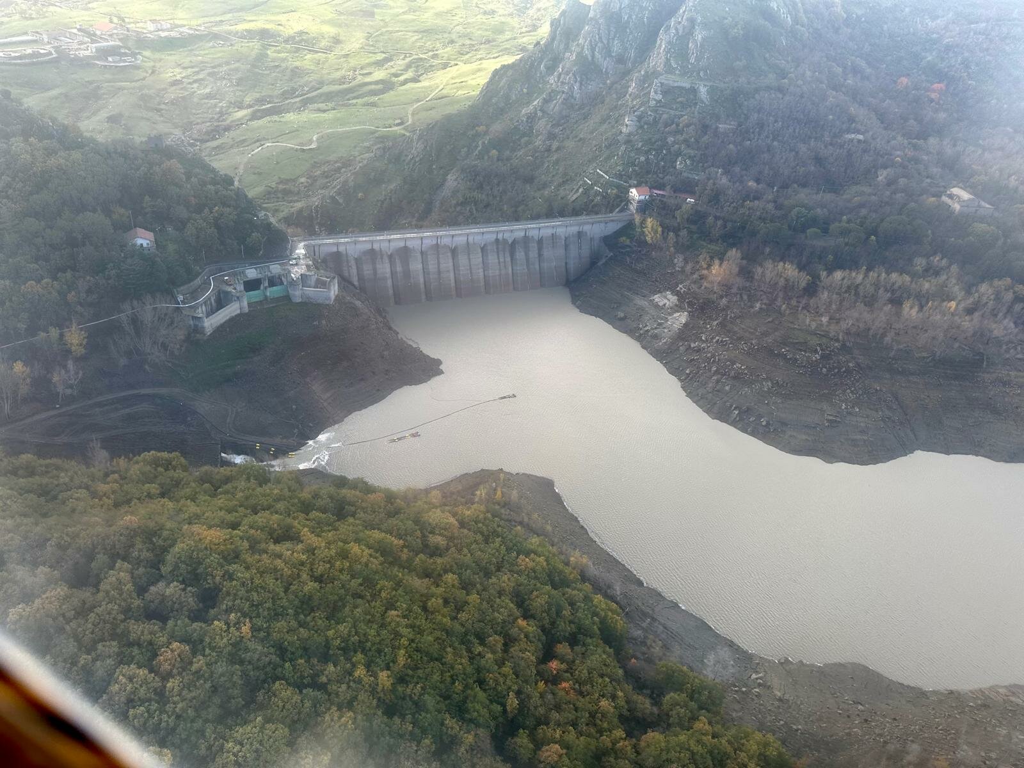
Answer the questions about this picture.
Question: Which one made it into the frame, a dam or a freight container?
dam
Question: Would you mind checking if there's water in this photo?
Yes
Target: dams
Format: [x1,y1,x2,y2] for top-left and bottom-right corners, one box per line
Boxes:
[292,210,628,305]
